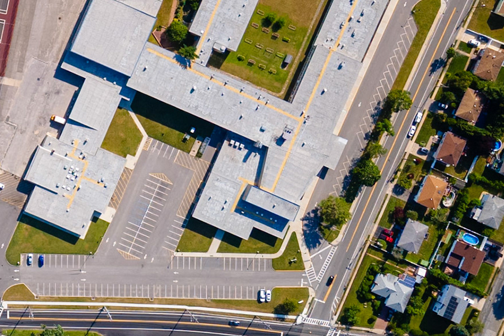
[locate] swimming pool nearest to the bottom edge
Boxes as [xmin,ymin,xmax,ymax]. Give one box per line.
[463,233,480,246]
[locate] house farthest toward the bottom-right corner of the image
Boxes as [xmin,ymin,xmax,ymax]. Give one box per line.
[434,283,467,323]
